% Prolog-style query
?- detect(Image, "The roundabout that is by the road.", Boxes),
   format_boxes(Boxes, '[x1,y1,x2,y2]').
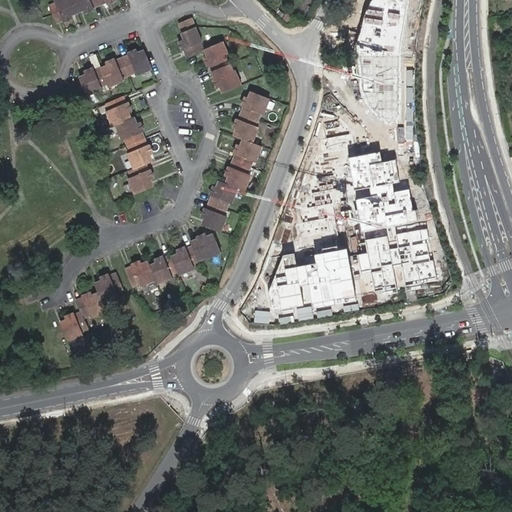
[174,328,252,404]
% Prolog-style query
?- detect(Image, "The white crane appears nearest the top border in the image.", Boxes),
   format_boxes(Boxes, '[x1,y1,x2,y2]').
[224,37,388,88]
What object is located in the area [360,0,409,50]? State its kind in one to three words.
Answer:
building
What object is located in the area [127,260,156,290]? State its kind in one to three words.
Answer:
house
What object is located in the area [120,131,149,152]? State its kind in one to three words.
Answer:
house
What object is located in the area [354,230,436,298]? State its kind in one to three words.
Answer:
building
